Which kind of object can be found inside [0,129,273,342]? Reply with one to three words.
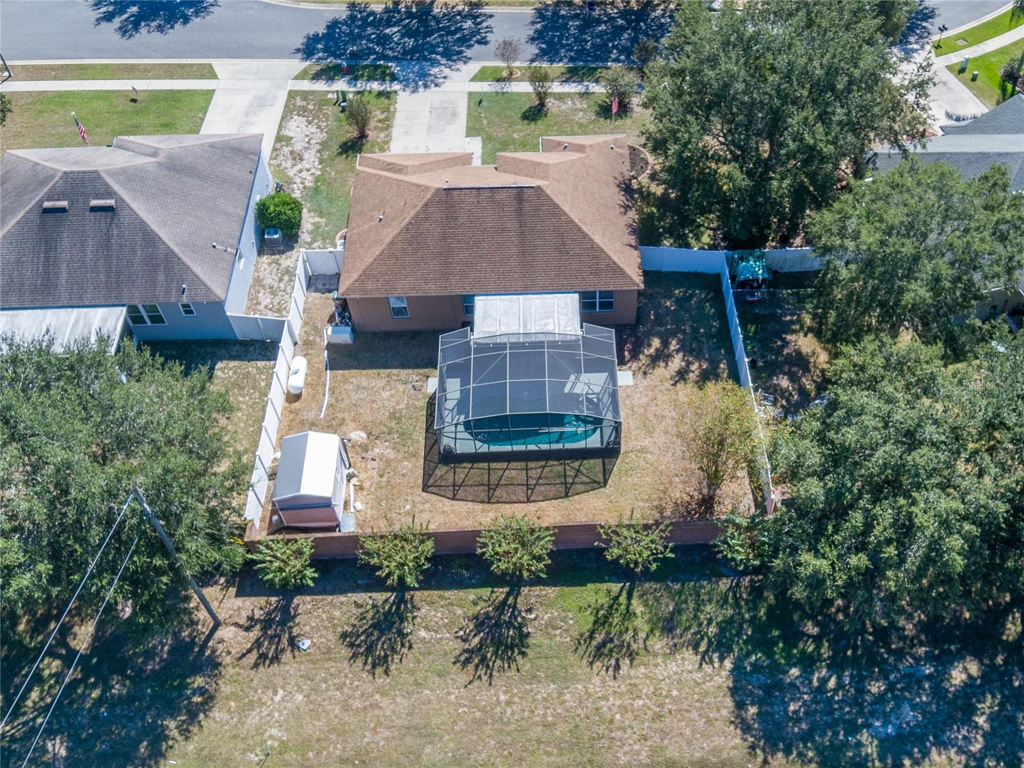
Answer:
house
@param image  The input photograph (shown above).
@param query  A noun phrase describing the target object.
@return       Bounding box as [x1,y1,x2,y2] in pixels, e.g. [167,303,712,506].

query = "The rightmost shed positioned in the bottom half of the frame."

[274,432,352,526]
